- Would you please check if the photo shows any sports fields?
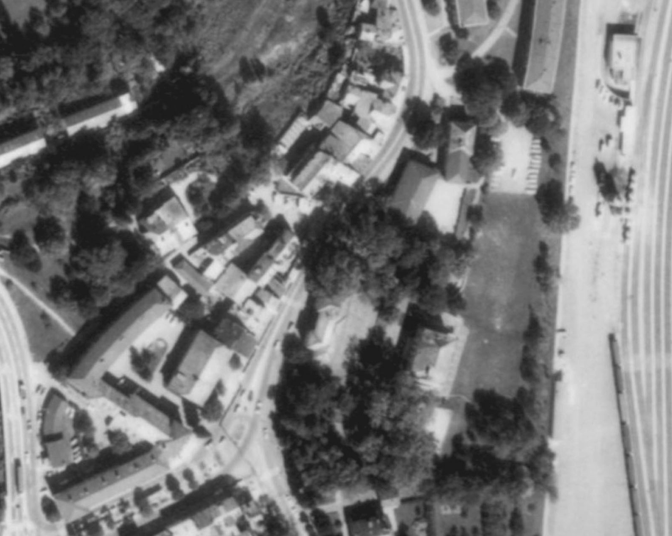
Yes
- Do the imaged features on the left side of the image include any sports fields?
No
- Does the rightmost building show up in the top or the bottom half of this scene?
top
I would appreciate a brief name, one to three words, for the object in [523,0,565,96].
building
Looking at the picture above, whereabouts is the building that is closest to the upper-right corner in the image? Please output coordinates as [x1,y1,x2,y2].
[608,34,638,97]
